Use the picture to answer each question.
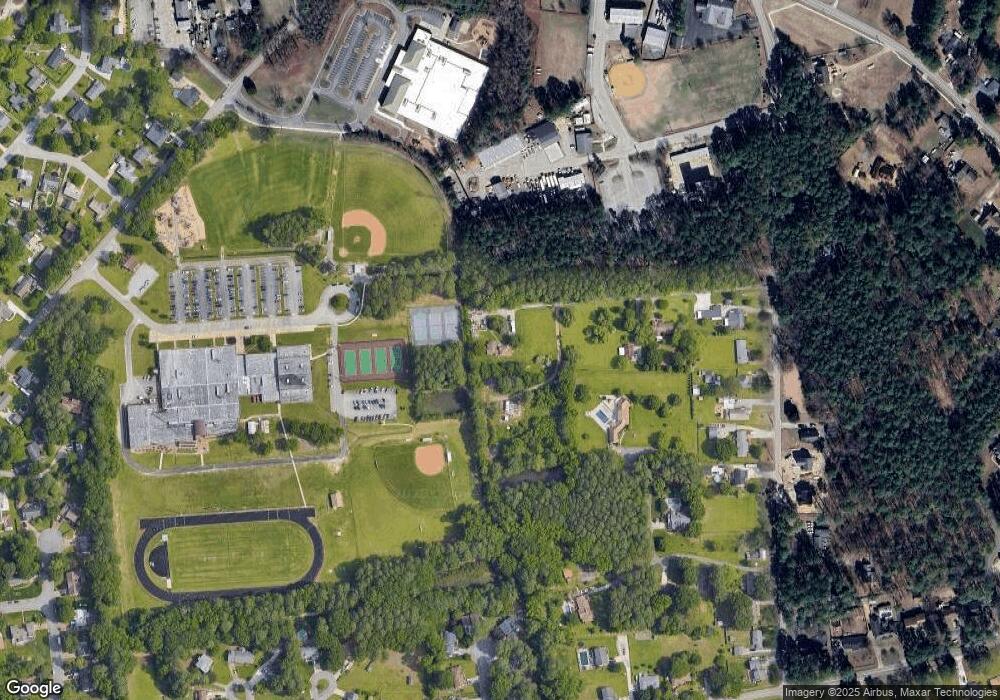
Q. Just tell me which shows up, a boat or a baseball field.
baseball field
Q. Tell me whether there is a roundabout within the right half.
No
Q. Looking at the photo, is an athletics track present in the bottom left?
Yes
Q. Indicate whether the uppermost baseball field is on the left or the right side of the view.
right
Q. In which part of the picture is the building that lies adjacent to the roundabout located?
left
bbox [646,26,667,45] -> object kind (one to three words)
shed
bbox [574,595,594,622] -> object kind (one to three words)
house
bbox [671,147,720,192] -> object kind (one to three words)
building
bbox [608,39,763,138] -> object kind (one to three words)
baseball field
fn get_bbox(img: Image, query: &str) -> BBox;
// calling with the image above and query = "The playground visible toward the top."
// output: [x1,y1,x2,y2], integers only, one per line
[472,21,494,46]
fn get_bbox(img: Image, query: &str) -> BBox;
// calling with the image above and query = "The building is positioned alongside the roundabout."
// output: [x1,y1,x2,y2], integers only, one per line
[127,345,312,451]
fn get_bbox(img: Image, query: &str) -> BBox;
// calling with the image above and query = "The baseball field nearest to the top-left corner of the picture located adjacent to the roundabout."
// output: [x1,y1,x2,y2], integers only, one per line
[339,143,451,262]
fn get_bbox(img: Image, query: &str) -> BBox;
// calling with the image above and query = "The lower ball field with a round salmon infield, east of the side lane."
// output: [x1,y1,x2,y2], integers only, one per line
[372,442,455,508]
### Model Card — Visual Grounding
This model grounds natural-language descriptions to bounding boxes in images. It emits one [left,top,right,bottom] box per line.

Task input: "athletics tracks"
[134,508,324,602]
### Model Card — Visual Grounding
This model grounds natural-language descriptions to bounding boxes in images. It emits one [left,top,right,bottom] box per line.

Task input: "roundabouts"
[310,284,359,328]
